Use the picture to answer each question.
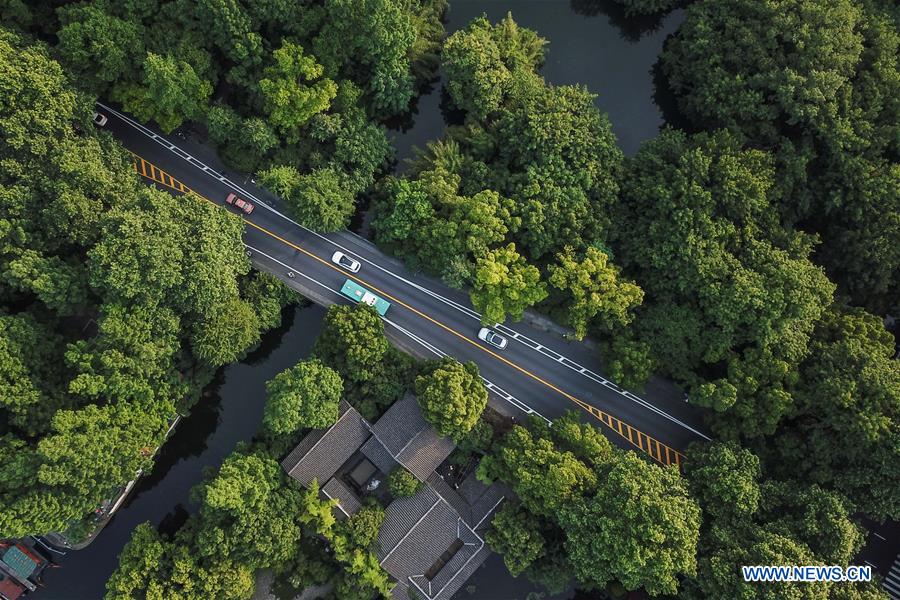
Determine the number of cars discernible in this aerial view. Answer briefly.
four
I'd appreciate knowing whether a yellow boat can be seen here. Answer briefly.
No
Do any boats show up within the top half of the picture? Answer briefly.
No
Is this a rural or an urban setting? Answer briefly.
rural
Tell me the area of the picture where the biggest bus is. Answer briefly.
center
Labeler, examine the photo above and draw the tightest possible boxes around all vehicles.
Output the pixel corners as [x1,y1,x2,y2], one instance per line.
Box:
[330,250,363,274]
[476,328,508,351]
[342,280,391,316]
[86,105,108,126]
[226,193,256,215]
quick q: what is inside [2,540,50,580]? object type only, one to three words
boat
